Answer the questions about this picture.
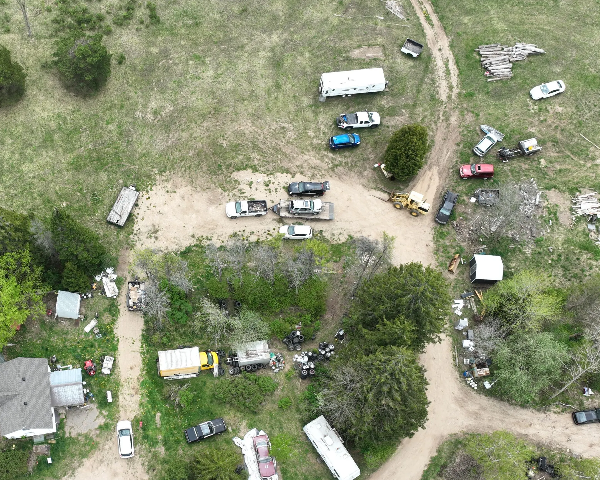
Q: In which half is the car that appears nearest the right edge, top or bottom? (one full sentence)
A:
It is in the bottom half that the car that appears nearest the right edge appears.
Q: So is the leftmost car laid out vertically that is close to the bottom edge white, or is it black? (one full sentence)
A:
The leftmost car laid out vertically that is close to the bottom edge looks white in the image.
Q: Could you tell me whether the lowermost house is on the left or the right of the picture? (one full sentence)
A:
The lowermost house is on the left side of the image.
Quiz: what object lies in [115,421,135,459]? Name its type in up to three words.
car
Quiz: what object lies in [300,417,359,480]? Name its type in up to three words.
camper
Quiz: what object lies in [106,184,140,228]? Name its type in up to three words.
trailer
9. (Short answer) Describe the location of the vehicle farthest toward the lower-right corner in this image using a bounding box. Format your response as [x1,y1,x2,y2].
[569,406,600,426]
